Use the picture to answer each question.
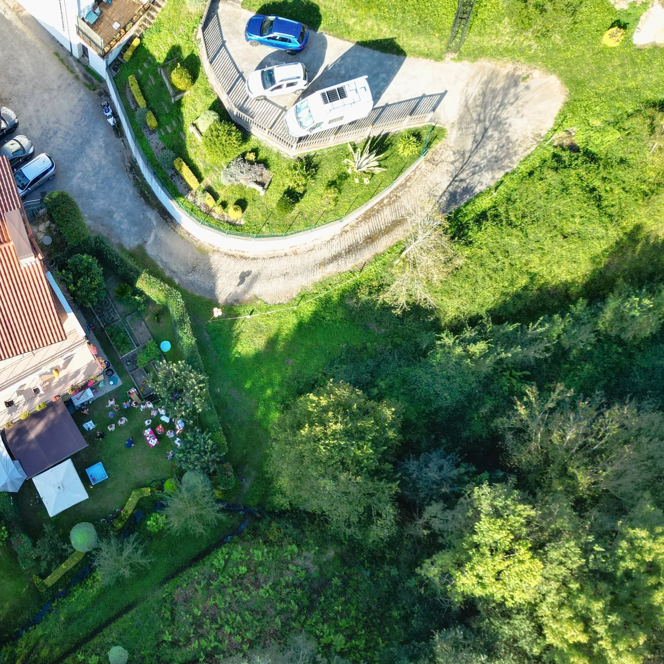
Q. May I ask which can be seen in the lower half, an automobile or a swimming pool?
swimming pool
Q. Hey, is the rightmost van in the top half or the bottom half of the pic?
top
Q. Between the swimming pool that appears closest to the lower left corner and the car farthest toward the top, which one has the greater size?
the car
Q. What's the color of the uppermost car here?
blue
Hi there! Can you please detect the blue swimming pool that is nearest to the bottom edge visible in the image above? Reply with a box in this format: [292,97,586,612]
[84,461,110,487]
